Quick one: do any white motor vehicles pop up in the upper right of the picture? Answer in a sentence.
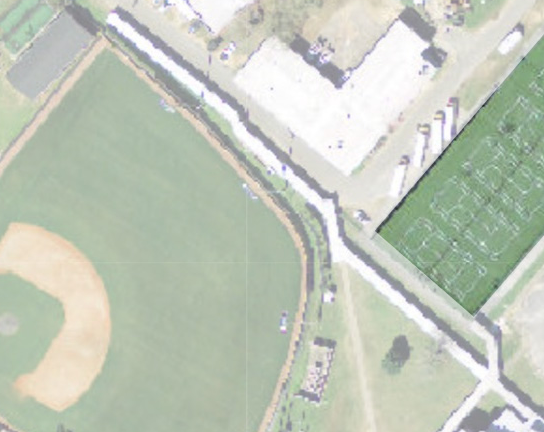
Yes, you'll find a white motor vehicle in the upper right of the picture.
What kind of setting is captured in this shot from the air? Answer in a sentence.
This image shows a sports ground.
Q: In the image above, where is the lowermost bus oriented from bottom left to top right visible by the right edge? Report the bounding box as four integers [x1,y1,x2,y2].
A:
[494,26,524,54]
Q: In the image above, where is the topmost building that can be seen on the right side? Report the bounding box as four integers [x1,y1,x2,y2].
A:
[233,19,440,174]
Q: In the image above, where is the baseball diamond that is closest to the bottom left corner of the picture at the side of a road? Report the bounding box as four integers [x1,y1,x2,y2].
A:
[0,40,310,432]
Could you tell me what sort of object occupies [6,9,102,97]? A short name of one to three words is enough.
shed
